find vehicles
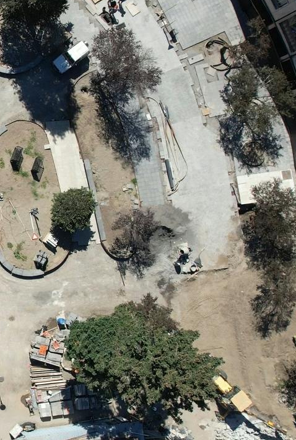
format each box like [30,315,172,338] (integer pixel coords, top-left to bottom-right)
[55,36,96,72]
[203,356,291,438]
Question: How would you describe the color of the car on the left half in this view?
white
